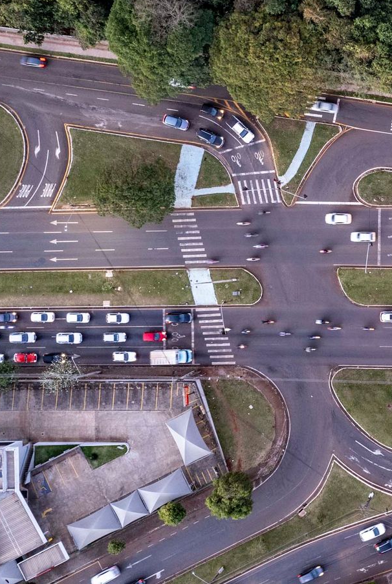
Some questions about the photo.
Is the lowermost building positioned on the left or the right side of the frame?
left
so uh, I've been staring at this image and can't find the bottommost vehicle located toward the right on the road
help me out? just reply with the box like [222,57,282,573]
[296,564,324,584]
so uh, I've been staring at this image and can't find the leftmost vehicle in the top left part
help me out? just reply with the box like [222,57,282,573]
[21,54,49,69]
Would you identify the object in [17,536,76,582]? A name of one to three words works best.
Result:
building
